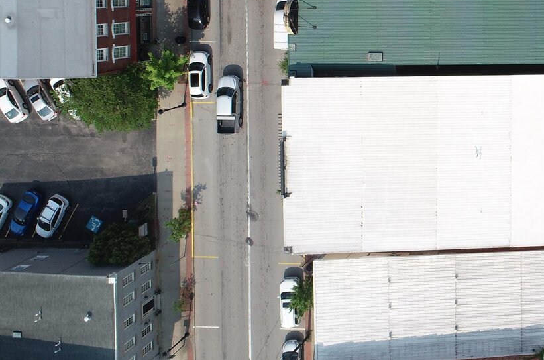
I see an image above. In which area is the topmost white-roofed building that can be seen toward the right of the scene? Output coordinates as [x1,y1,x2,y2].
[275,70,544,255]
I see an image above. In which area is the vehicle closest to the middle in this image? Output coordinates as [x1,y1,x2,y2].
[217,75,245,134]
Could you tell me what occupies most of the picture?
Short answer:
buildings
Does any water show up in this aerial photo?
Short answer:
No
